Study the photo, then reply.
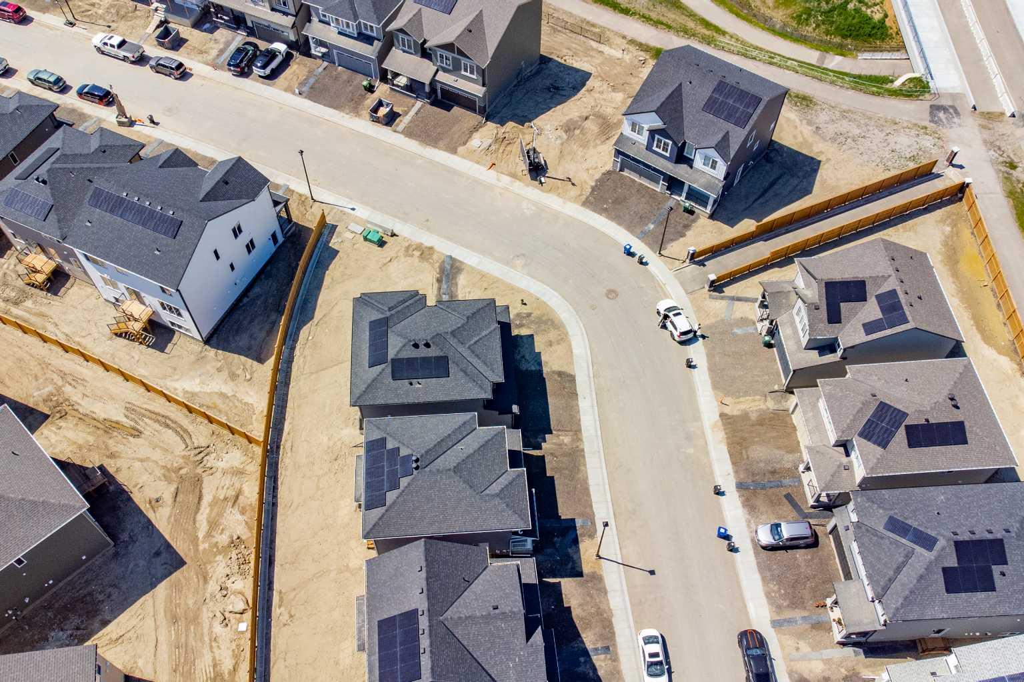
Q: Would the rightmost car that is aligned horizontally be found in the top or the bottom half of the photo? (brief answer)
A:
bottom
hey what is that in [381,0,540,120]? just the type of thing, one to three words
house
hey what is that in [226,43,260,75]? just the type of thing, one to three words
car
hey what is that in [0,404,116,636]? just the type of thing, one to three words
house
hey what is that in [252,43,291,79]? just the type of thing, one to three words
truck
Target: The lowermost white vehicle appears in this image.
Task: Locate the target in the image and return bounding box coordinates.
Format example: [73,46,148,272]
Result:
[637,629,669,682]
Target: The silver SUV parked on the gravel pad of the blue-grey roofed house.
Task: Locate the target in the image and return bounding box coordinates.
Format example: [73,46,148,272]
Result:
[754,519,818,550]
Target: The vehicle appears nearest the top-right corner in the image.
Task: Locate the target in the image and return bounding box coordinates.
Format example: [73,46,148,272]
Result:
[657,300,698,346]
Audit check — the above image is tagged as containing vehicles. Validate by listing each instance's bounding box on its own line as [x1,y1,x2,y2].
[739,629,777,682]
[25,71,70,96]
[657,300,698,346]
[74,84,113,110]
[0,55,12,74]
[226,43,260,75]
[92,36,145,65]
[754,519,818,550]
[147,55,190,81]
[0,0,25,22]
[252,43,291,79]
[637,629,669,682]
